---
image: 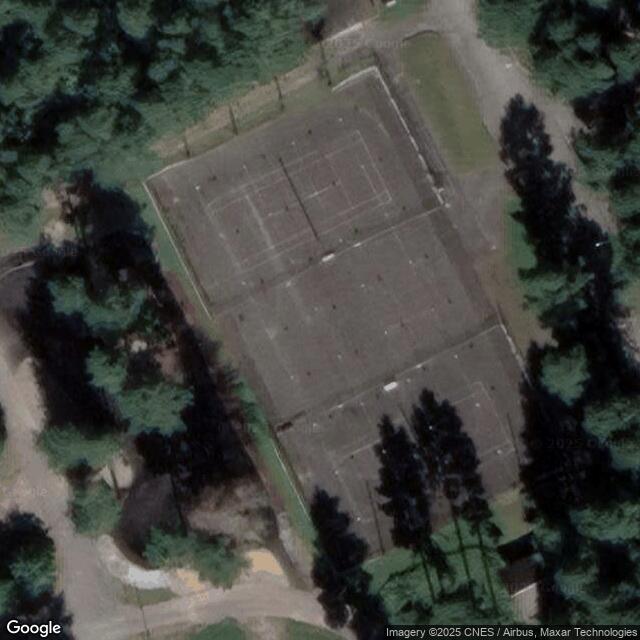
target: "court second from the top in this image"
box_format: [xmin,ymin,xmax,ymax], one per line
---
[216,208,502,428]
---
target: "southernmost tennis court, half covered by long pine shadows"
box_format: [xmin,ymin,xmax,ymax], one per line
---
[278,328,529,561]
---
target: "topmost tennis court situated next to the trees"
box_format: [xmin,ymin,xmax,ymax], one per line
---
[146,70,442,317]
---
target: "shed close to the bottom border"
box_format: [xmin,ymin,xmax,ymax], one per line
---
[499,563,536,639]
